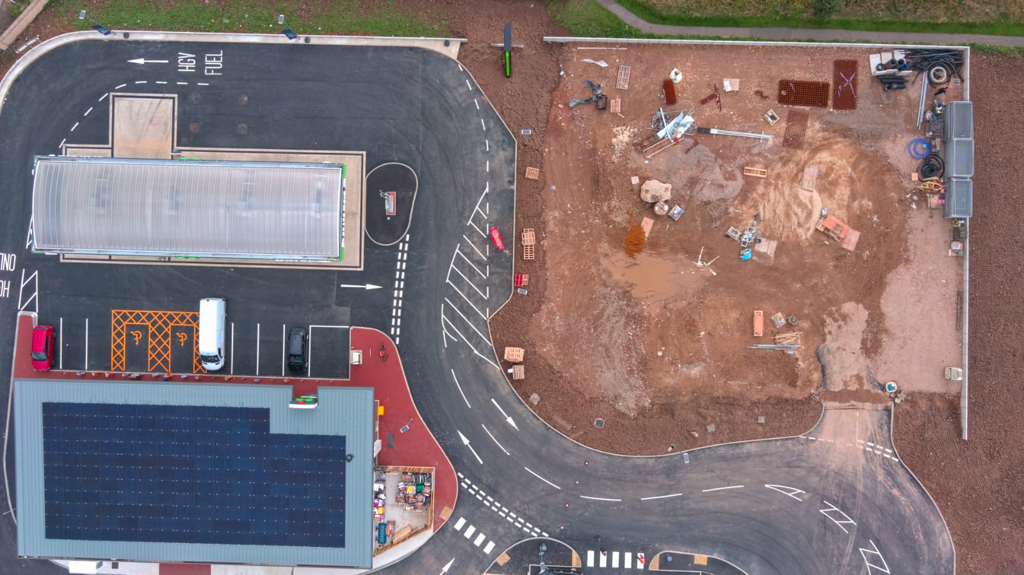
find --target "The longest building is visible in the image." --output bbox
[13,379,375,570]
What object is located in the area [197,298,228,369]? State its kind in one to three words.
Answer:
van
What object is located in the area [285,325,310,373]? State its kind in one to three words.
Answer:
car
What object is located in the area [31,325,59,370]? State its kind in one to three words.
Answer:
car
